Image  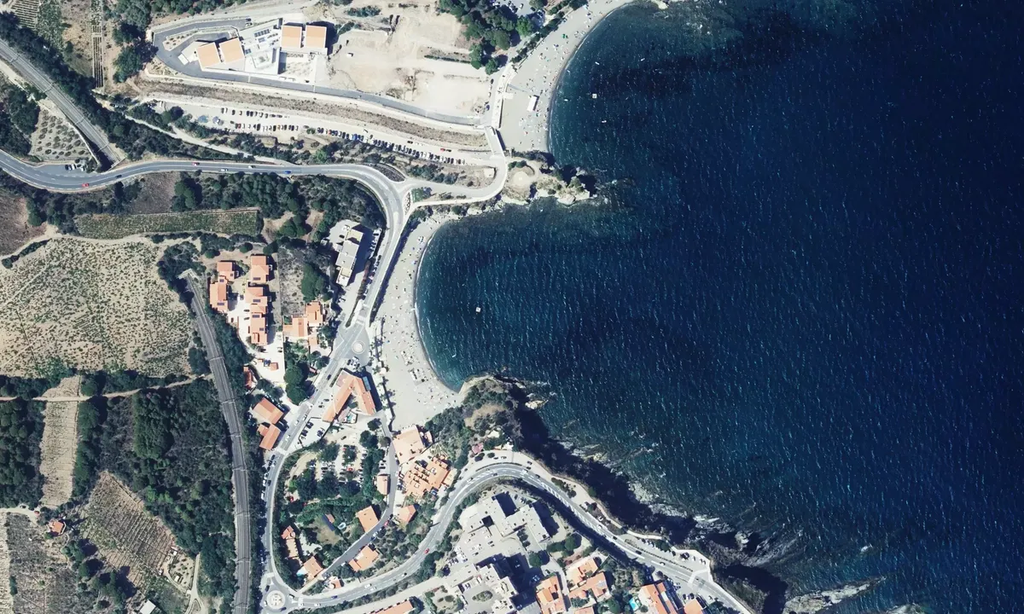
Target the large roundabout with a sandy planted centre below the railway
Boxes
[260,582,299,614]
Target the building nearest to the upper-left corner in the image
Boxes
[178,37,246,72]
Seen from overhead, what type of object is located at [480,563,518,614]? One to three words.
building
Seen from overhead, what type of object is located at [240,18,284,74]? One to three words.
house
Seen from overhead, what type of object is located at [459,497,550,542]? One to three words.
building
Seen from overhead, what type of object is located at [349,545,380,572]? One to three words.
house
